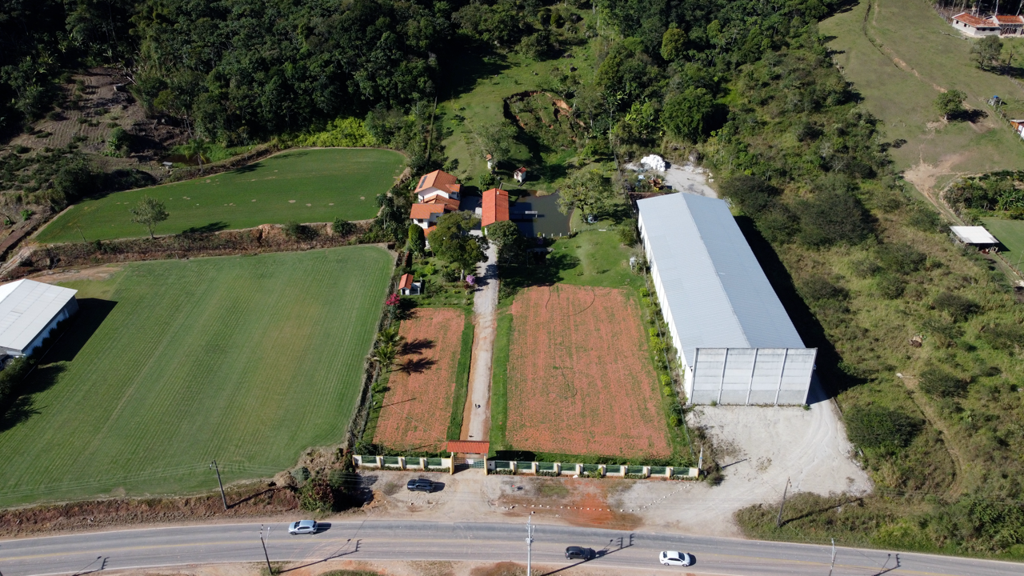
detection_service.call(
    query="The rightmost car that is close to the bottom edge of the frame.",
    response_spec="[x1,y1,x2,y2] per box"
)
[659,549,692,565]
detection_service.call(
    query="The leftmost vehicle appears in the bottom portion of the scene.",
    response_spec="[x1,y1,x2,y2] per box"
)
[288,518,318,534]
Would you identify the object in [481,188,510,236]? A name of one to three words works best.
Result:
building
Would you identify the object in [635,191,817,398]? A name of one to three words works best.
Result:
warehouse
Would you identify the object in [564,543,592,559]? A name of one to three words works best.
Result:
car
